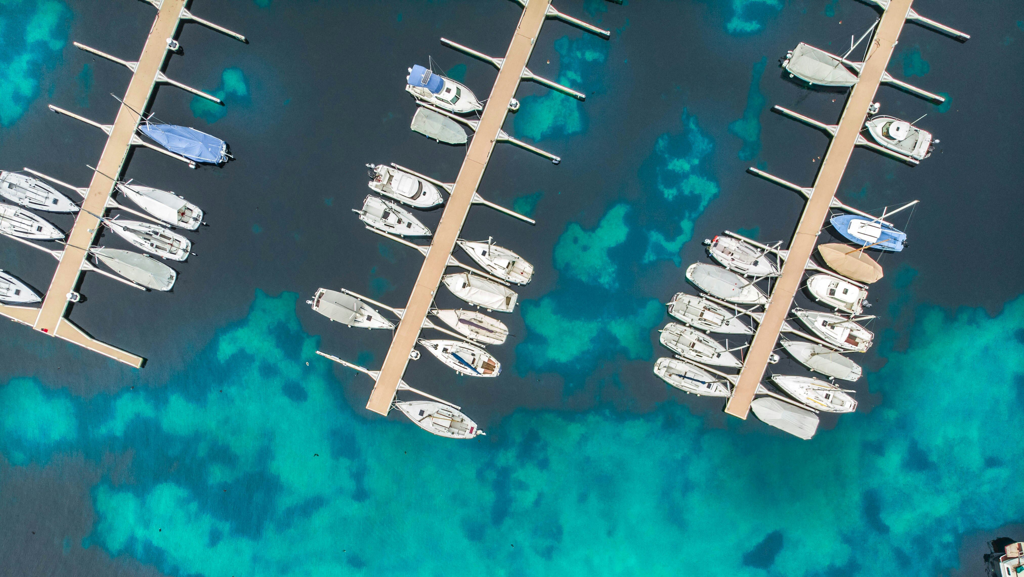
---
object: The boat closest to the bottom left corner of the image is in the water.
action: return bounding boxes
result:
[0,270,48,314]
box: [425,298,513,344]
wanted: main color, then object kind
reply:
white boat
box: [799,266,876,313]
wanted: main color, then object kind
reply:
white boat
